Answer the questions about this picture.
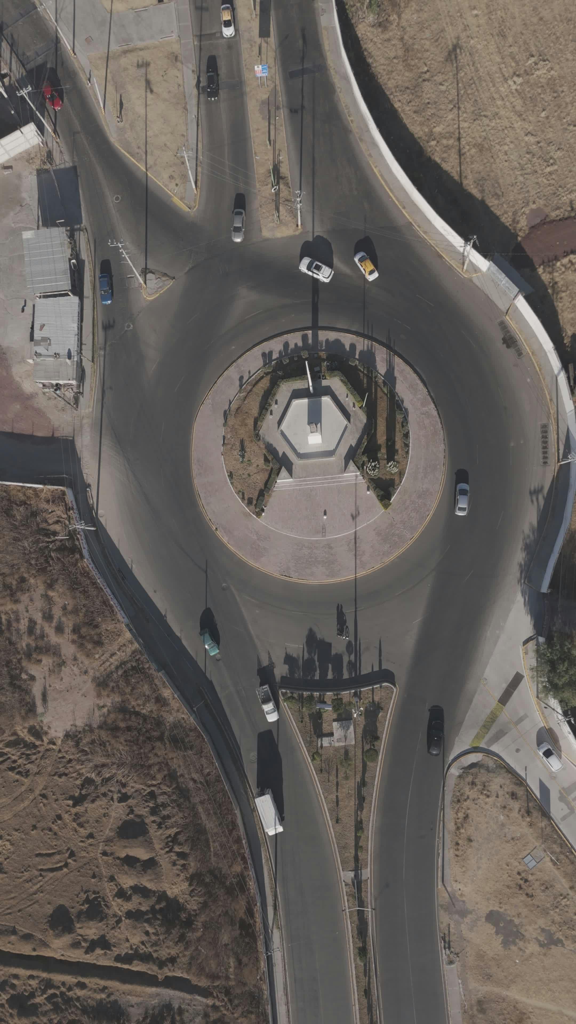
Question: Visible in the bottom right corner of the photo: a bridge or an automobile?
automobile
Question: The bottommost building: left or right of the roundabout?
on its left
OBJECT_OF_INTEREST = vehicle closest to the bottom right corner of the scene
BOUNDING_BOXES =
[537,741,564,773]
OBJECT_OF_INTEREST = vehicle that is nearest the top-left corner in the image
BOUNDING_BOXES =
[42,79,63,112]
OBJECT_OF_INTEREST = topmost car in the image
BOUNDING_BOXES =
[220,5,236,41]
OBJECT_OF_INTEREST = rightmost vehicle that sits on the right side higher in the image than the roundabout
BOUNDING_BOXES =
[356,251,379,282]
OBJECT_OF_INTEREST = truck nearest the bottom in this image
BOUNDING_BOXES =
[255,784,284,834]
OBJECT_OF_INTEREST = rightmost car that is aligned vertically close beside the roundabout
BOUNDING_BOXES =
[454,483,471,515]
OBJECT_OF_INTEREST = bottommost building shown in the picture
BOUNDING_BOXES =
[21,294,85,384]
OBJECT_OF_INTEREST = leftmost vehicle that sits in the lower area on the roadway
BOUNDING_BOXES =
[199,626,220,656]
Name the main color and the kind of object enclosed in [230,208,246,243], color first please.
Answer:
gray car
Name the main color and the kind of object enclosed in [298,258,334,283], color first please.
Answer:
white car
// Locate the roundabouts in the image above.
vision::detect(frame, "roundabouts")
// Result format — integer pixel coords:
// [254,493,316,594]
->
[189,325,449,585]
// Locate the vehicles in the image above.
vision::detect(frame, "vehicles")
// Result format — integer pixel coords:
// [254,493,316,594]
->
[205,69,220,102]
[298,258,334,283]
[98,273,114,306]
[220,5,236,41]
[230,208,246,243]
[454,483,471,515]
[255,784,284,834]
[42,79,63,112]
[257,684,279,722]
[356,251,379,282]
[537,741,564,773]
[199,626,220,656]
